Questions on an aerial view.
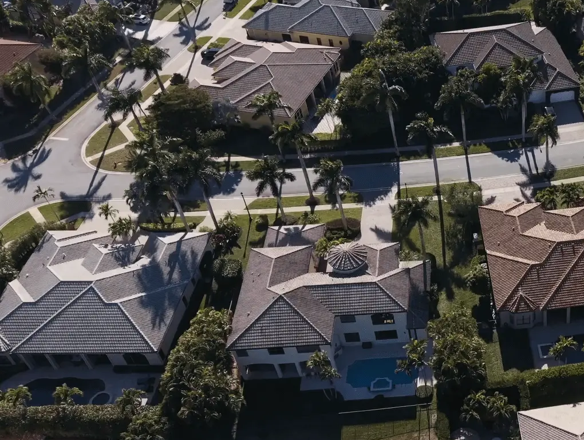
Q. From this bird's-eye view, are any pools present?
Yes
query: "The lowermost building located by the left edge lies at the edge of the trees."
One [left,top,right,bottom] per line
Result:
[0,230,209,373]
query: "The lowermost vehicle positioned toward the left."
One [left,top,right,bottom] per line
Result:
[199,44,225,60]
